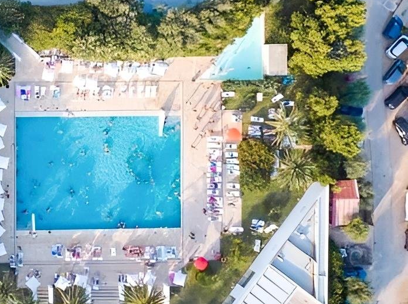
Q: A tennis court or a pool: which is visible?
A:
pool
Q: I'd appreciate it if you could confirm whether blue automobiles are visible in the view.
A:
Yes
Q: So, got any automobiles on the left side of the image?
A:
No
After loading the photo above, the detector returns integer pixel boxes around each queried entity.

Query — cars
[387,34,408,58]
[384,15,406,41]
[339,104,368,118]
[384,58,408,85]
[387,85,408,109]
[394,116,408,144]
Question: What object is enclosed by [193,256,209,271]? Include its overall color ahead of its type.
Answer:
red umbrella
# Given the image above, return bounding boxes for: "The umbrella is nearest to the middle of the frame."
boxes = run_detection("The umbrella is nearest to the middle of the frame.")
[226,127,242,142]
